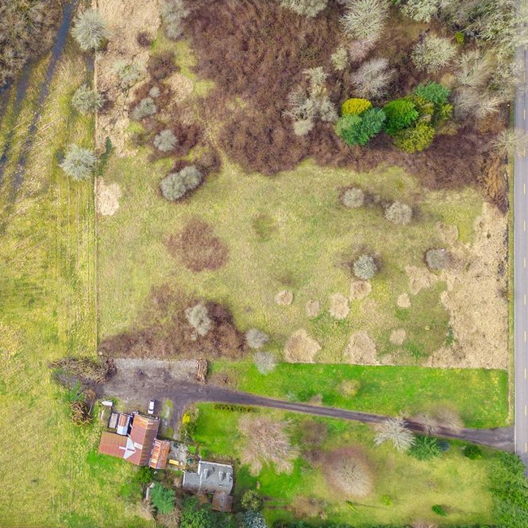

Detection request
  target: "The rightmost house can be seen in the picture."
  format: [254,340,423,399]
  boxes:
[182,454,234,506]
